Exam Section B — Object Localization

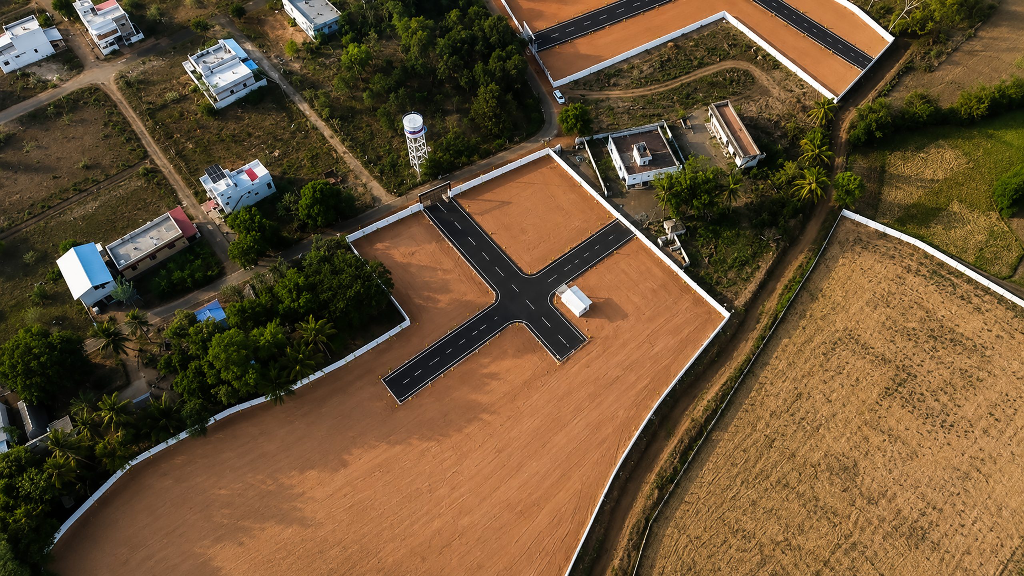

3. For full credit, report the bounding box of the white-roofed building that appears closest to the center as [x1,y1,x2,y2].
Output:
[555,285,593,317]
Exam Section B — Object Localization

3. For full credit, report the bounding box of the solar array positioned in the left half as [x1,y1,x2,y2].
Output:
[203,163,229,188]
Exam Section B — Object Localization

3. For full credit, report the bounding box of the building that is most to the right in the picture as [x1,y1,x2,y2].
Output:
[703,100,764,168]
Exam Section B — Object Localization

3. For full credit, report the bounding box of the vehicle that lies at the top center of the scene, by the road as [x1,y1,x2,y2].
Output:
[553,89,565,103]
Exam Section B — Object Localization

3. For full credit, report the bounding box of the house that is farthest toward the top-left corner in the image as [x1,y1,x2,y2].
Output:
[0,15,69,73]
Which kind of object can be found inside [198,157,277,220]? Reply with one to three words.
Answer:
house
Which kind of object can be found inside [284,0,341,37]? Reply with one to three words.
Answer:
house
